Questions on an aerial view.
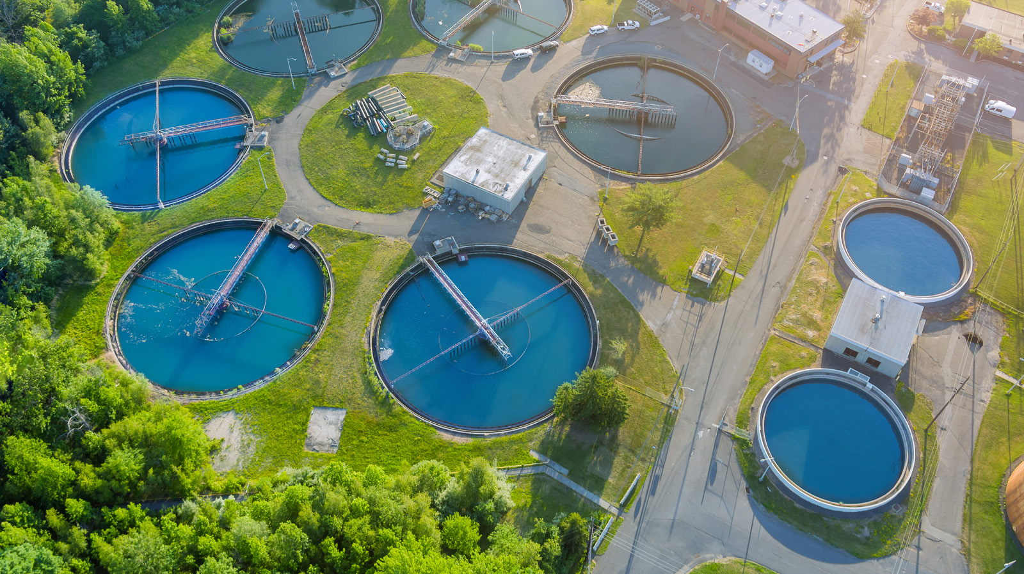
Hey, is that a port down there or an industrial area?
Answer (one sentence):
It's an industrial area.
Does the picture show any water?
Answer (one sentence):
Yes, water shows up in the scene.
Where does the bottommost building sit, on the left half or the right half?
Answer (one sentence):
You can find the bottommost building on the right side of the picture.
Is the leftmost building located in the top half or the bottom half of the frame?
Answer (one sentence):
The leftmost building sits in the top half of the picture.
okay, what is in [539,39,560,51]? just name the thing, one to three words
vehicle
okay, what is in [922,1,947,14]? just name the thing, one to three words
vehicle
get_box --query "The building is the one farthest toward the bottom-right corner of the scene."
[825,277,926,376]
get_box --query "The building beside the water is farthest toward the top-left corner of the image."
[442,127,548,215]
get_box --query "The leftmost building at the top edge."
[661,0,845,78]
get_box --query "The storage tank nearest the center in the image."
[370,243,600,435]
